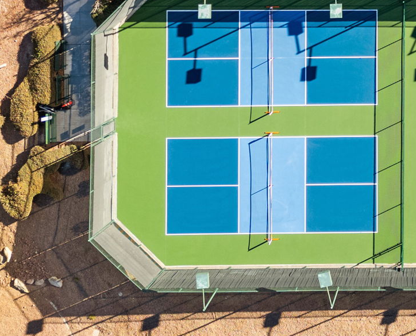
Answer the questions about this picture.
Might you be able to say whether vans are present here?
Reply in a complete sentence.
No, there's no van here.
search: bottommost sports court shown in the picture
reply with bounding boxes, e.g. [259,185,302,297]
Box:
[167,137,377,234]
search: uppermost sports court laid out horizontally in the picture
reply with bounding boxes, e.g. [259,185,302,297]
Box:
[167,10,377,106]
